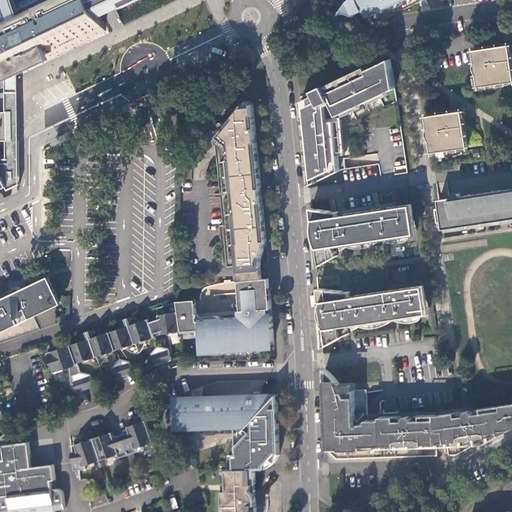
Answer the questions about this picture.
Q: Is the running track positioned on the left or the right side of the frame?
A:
right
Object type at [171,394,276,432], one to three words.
building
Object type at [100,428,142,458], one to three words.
house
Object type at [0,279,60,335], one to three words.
building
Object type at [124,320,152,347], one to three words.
house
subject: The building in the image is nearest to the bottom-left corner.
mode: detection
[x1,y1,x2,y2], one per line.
[0,444,68,512]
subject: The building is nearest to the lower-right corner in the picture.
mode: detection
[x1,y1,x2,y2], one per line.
[321,370,512,460]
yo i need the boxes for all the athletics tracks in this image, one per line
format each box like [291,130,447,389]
[464,249,512,392]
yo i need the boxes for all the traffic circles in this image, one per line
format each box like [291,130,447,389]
[222,0,280,60]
